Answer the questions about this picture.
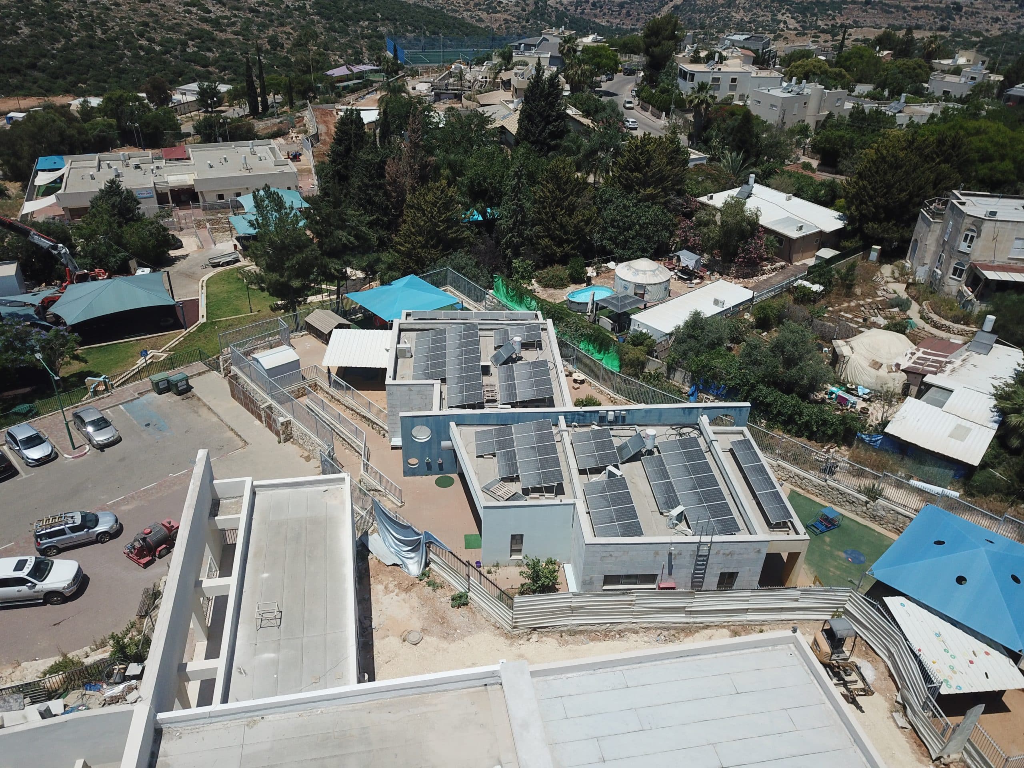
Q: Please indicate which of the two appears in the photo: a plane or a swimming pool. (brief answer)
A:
swimming pool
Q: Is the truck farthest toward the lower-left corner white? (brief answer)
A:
Yes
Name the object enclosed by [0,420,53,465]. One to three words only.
car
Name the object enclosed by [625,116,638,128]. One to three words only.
vehicle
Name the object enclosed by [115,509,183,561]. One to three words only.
trailer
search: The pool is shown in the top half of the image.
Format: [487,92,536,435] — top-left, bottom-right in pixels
[566,284,619,308]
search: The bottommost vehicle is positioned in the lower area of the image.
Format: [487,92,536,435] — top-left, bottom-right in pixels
[815,616,866,690]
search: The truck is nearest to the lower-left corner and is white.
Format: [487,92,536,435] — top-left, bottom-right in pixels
[0,555,81,606]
